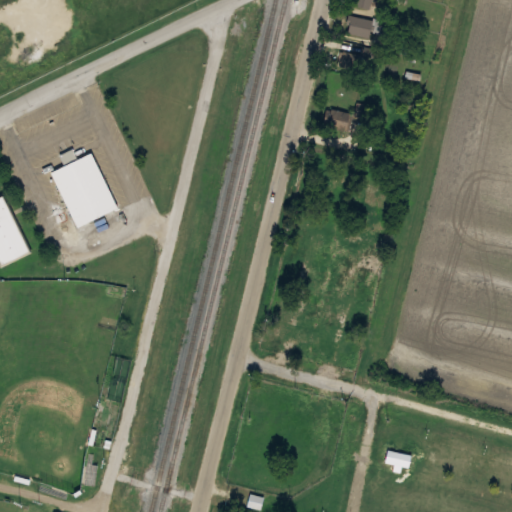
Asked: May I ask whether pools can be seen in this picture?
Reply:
No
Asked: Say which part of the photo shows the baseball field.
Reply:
bottom left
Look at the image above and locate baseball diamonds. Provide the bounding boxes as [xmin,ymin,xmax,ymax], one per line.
[0,280,126,495]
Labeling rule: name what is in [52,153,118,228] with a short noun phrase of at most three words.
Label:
shed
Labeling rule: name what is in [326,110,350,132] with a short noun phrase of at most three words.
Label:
house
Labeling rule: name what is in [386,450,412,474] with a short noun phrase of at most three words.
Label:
house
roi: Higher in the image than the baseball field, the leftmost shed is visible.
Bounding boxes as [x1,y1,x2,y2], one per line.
[0,196,30,266]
